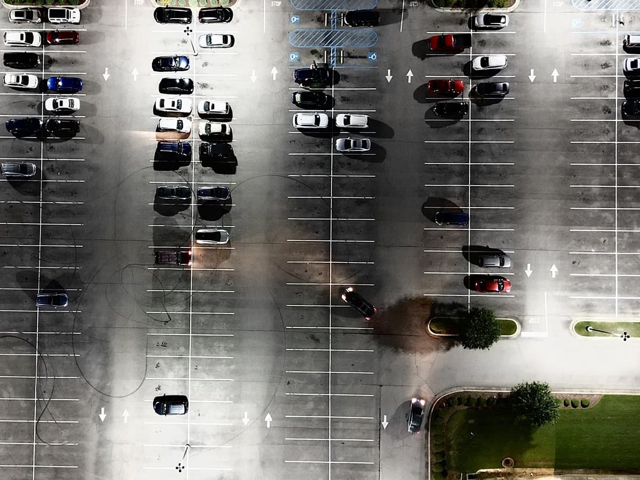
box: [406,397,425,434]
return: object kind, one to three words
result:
car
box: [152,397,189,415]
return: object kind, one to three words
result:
car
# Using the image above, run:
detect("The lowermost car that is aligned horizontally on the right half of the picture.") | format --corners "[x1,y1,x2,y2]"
[473,276,511,294]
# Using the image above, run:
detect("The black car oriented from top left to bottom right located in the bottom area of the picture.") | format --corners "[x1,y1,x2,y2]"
[342,288,375,320]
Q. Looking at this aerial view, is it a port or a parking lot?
parking lot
